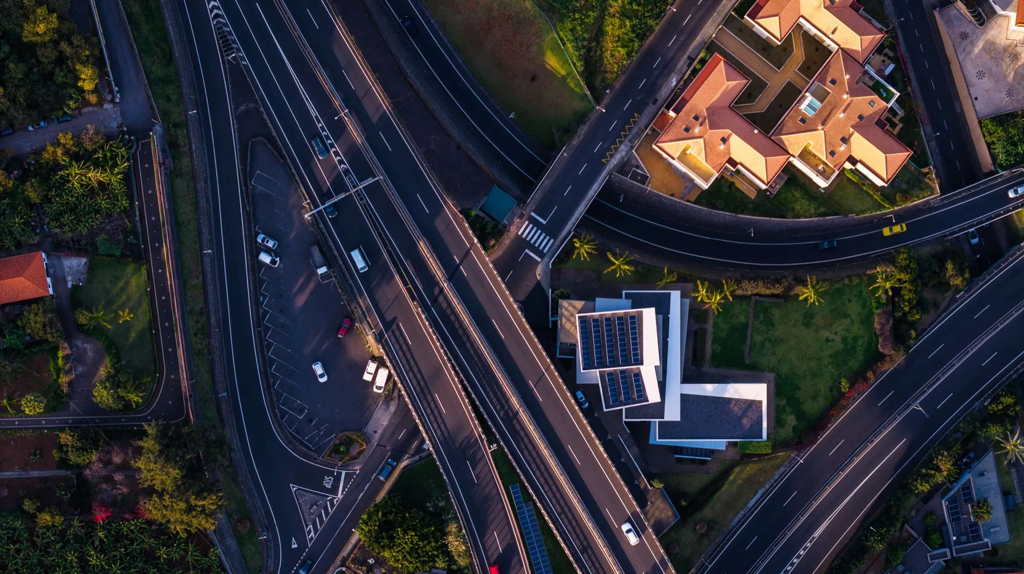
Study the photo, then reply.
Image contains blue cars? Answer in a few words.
Yes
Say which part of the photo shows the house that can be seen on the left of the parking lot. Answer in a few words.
left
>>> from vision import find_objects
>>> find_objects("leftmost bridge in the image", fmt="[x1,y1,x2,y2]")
[209,0,529,574]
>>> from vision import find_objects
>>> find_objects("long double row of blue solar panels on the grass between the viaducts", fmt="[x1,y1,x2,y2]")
[509,485,551,574]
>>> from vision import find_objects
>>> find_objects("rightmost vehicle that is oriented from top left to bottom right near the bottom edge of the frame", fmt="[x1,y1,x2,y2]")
[620,521,642,549]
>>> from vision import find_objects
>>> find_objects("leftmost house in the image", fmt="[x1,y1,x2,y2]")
[0,250,64,306]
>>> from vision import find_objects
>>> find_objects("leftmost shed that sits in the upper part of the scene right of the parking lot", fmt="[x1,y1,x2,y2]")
[483,185,517,222]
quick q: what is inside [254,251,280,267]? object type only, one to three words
vehicle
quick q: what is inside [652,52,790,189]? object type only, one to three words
house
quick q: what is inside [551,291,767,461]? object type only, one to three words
building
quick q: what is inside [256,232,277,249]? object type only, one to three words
car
